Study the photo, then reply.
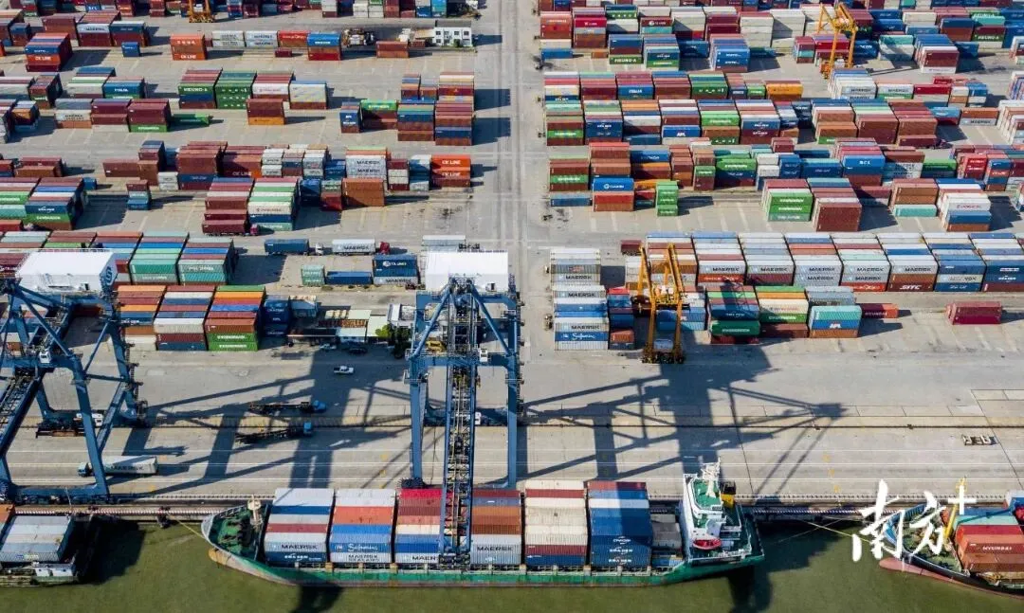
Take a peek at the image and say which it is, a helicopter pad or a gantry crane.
gantry crane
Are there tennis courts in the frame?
No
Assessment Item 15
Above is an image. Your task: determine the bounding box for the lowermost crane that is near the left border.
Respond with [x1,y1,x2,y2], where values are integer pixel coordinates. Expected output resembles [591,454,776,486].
[0,246,150,501]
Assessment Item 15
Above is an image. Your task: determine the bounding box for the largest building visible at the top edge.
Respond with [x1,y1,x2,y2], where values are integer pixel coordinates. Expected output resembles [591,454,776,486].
[432,20,477,48]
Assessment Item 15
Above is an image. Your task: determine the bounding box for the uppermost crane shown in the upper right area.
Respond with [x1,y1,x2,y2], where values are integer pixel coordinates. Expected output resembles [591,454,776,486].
[815,1,862,72]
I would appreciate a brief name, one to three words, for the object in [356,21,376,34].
vehicle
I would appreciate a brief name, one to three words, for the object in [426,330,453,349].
work vehicle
